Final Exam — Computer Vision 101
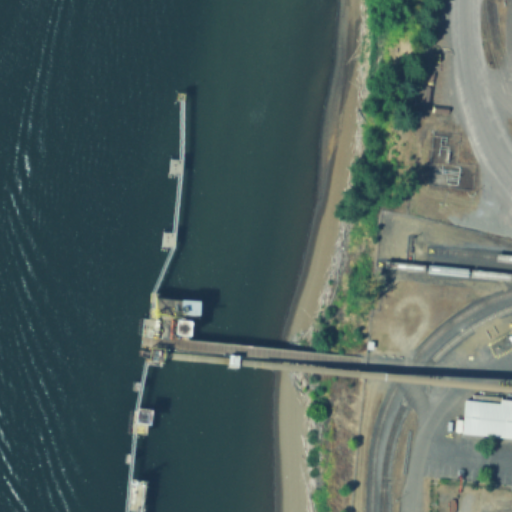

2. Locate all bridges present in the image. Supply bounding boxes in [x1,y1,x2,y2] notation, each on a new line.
[171,339,374,368]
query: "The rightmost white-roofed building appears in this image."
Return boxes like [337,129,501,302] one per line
[466,395,512,440]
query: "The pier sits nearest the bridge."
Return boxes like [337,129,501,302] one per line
[141,298,184,350]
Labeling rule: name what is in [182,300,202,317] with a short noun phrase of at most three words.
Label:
house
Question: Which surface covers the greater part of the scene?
water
